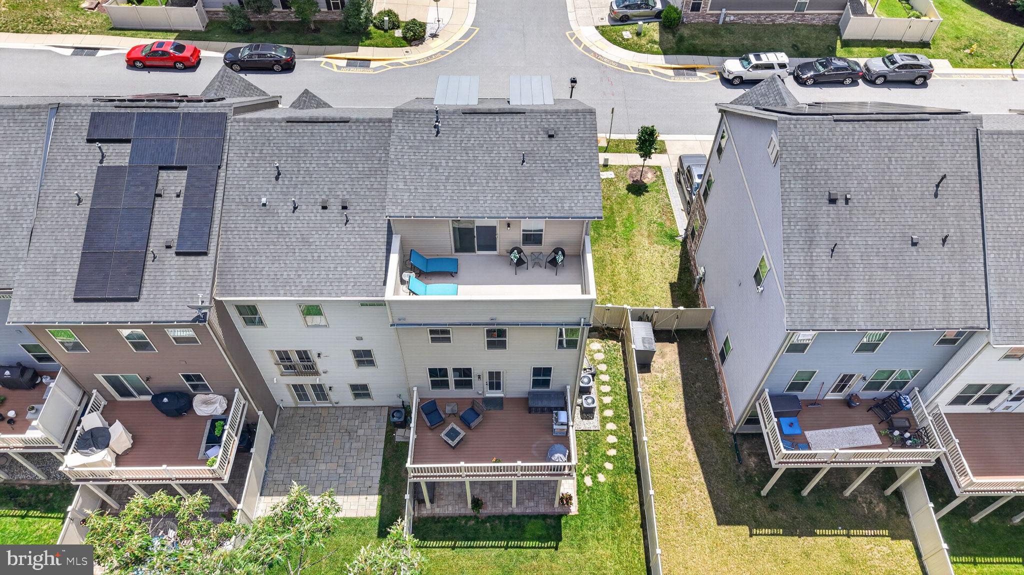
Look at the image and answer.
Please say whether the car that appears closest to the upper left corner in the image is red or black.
red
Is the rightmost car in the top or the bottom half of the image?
top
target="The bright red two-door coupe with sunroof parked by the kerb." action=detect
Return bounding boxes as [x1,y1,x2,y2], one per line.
[131,37,210,68]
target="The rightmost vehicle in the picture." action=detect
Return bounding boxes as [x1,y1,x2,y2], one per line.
[856,46,935,84]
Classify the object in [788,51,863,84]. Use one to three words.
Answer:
car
